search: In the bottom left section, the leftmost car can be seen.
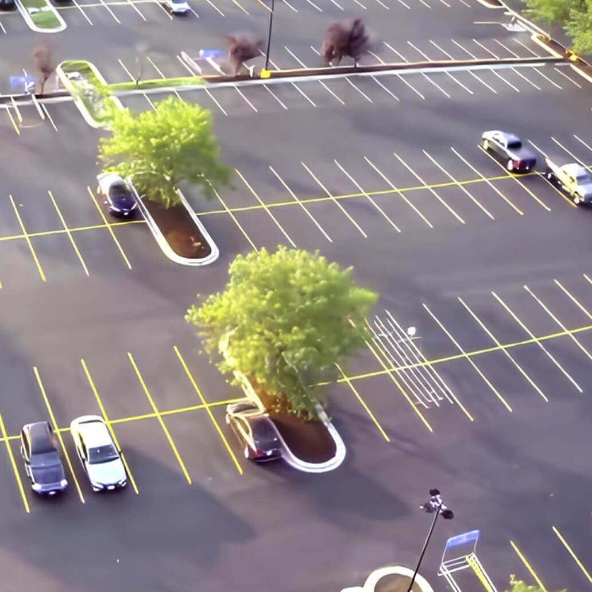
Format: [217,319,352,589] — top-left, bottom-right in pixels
[16,420,66,494]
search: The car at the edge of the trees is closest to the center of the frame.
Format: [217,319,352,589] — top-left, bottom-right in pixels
[226,401,280,461]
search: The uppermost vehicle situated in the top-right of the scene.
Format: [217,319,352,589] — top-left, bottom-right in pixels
[480,129,536,172]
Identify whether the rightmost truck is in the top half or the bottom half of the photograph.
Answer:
top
